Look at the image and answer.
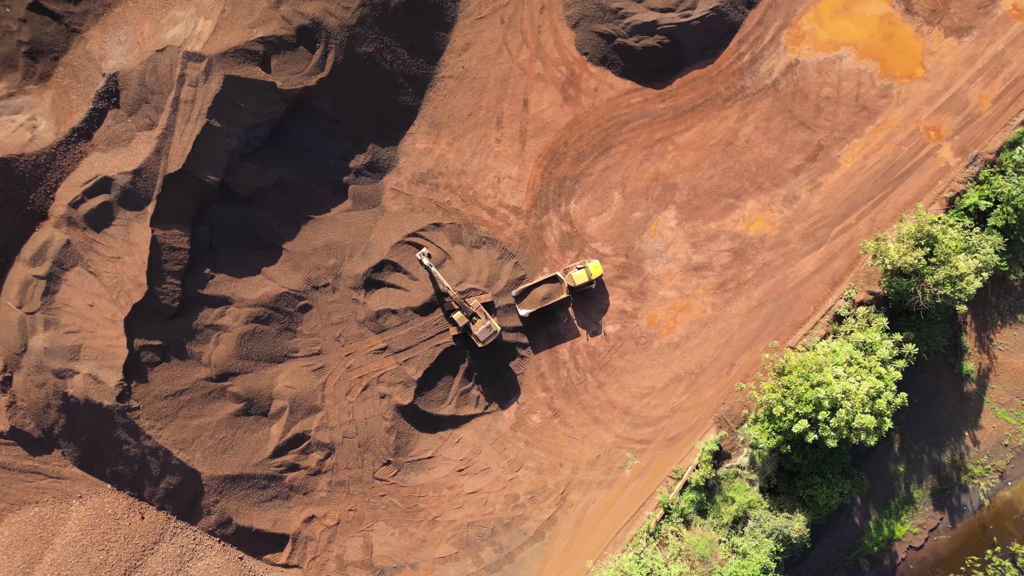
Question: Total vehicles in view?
2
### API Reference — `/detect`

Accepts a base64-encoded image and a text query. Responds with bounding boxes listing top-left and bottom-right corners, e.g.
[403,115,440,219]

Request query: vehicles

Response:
[510,254,605,321]
[410,244,500,347]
